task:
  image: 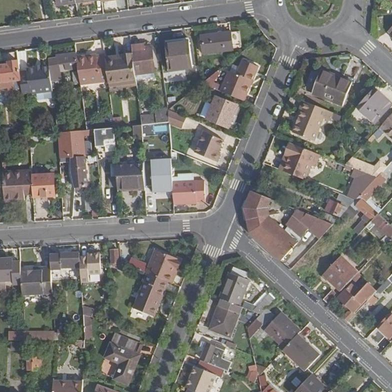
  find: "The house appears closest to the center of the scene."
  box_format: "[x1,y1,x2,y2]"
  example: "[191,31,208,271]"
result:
[173,173,206,208]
